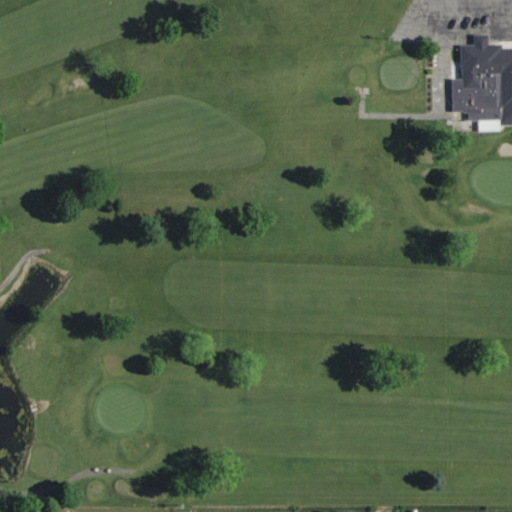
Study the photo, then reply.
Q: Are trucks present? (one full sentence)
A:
No, no truck is visible in the view.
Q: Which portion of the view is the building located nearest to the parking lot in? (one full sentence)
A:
The building located nearest to the parking lot appears toward the top right of the photo.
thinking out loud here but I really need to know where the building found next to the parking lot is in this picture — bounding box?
[453,35,512,132]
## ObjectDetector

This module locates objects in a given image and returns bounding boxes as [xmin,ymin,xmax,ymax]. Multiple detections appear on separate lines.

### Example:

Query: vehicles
[474,18,479,27]
[451,18,456,28]
[482,15,488,24]
[464,17,470,28]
